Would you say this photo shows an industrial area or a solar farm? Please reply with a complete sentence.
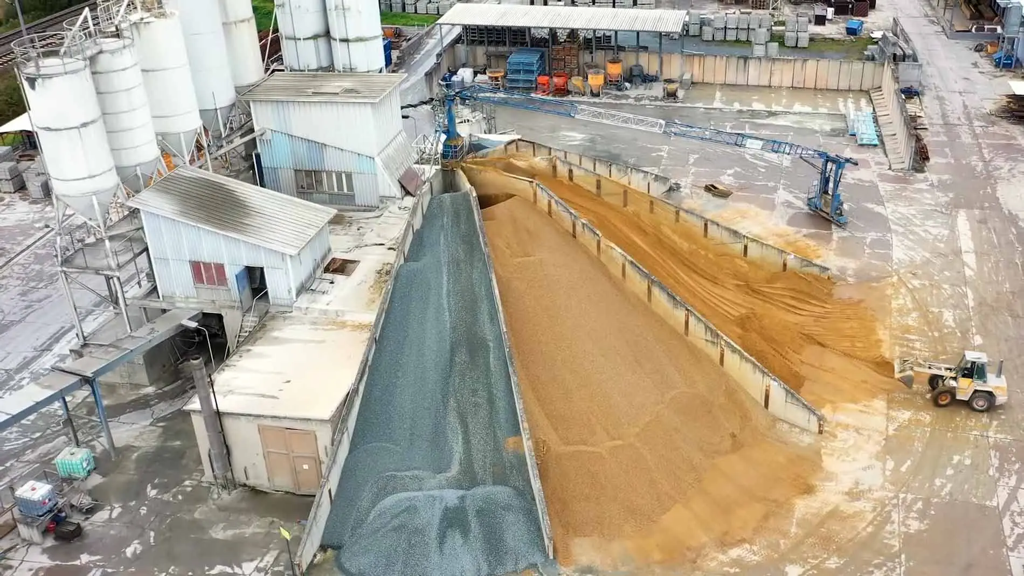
It's an industrial area.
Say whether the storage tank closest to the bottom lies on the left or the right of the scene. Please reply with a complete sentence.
The storage tank closest to the bottom appears in the left half of the scene.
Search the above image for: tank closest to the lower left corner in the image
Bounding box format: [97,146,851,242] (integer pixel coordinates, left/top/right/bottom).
[9,478,57,526]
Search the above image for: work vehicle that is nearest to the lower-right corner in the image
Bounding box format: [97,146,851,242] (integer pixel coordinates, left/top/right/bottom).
[891,345,1019,416]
